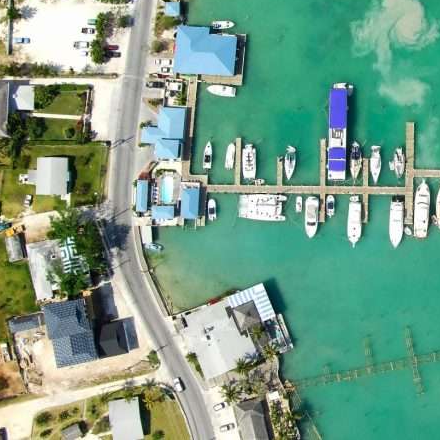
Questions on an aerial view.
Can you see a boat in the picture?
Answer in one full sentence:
Yes, you can see a boat in this photo.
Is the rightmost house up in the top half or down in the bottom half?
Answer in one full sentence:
The rightmost house sits in the bottom half of the picture.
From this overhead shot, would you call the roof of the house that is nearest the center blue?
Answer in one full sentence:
Yes, the roof of the house that is nearest the center is indeed blue.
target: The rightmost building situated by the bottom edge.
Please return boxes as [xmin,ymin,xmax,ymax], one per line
[232,397,271,440]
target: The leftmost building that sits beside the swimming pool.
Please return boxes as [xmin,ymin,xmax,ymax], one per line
[136,179,151,213]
